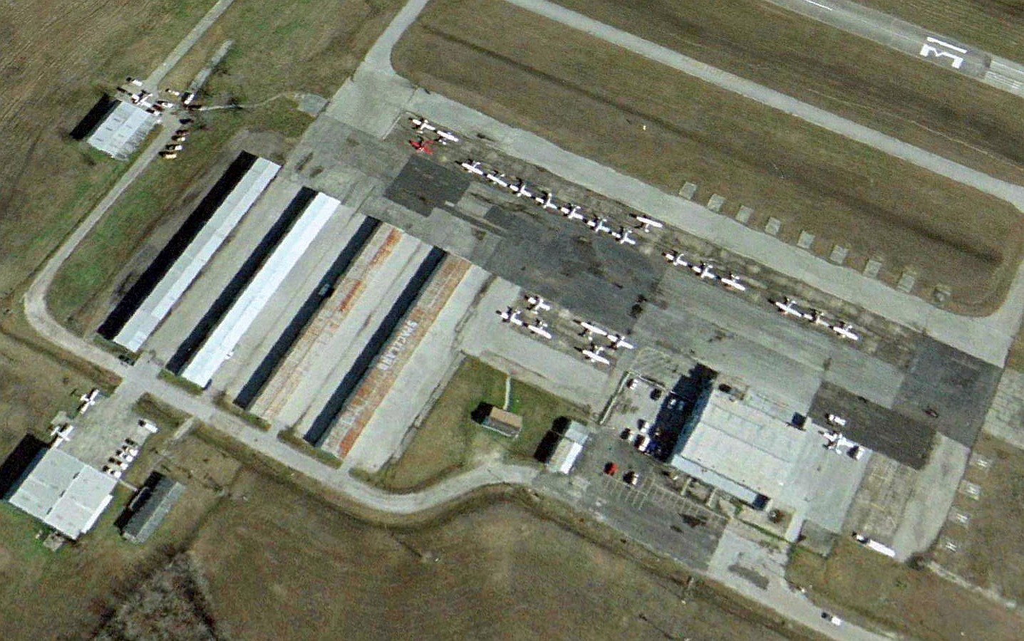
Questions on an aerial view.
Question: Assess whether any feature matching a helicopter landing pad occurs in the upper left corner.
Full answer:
No, no helicopter landing pad is visible in the upper left corner.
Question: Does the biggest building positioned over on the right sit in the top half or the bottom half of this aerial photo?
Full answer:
The bottom half of the photo is where the biggest building positioned over on the right is.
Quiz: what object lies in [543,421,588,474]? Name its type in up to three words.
shed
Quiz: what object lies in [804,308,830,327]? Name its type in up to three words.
airplane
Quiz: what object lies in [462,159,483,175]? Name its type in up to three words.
airplane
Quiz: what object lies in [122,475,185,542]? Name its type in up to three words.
house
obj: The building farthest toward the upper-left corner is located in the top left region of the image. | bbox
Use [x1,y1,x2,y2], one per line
[83,101,156,161]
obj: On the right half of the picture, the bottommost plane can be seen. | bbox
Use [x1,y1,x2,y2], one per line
[824,430,856,455]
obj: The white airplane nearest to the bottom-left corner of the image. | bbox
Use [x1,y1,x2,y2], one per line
[54,425,74,447]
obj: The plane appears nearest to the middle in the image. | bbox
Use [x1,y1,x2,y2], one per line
[501,309,523,325]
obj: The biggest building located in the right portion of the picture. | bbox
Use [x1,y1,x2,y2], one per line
[668,363,811,509]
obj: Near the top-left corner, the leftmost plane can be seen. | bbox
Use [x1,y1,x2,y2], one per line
[132,92,151,107]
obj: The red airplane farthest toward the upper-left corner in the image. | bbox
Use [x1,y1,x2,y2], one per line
[410,136,434,154]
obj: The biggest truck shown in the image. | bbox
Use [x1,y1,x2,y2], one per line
[860,536,895,557]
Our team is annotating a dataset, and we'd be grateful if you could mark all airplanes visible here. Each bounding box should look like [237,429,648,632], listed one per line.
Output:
[834,321,859,341]
[561,202,584,219]
[776,297,802,318]
[501,309,523,325]
[80,390,98,413]
[54,425,74,447]
[510,180,532,197]
[462,159,483,175]
[487,170,507,186]
[693,261,715,279]
[608,329,635,349]
[412,119,436,136]
[722,273,746,291]
[437,129,459,146]
[528,299,551,315]
[410,136,434,154]
[804,308,830,327]
[529,320,552,339]
[612,227,636,244]
[666,250,687,266]
[588,215,611,232]
[583,344,610,365]
[581,322,608,341]
[132,92,151,107]
[637,215,664,234]
[535,192,558,209]
[824,430,856,455]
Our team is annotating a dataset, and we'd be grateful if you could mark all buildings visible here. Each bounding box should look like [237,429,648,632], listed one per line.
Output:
[481,407,522,435]
[3,448,116,540]
[318,253,471,459]
[122,475,185,542]
[178,192,340,387]
[110,158,280,352]
[668,363,811,509]
[83,101,156,161]
[42,534,64,550]
[248,222,403,420]
[543,421,588,474]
